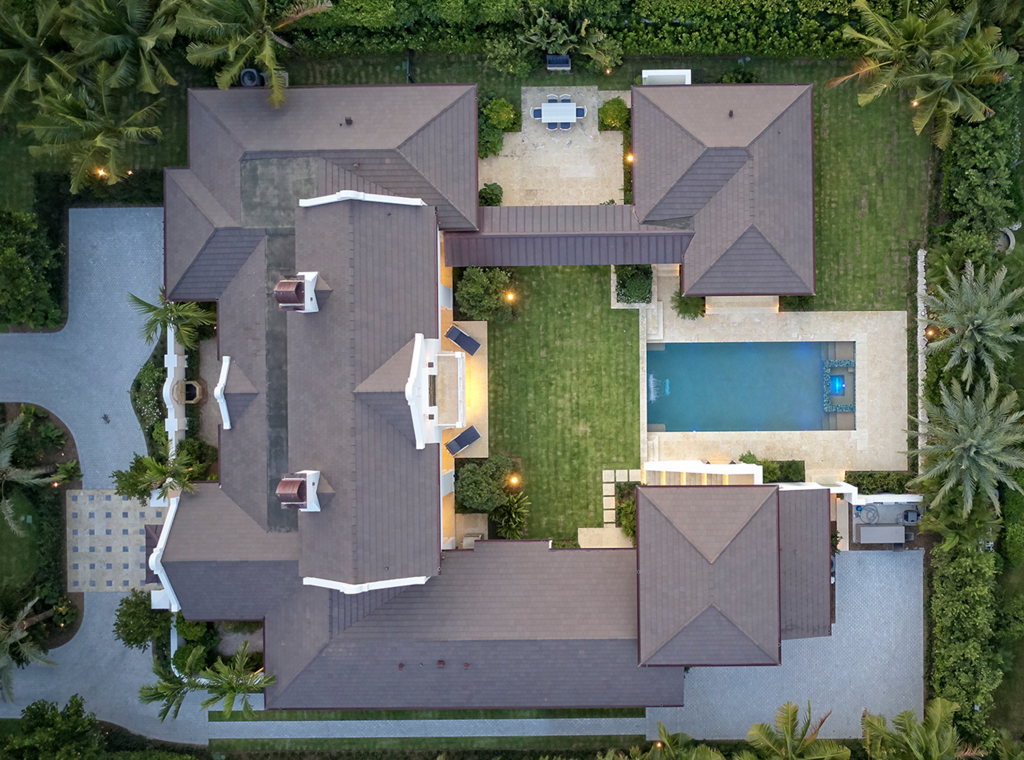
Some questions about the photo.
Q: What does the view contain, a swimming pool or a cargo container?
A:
swimming pool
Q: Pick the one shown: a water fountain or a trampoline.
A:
water fountain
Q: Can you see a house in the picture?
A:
Yes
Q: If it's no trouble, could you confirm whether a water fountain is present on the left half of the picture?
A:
Yes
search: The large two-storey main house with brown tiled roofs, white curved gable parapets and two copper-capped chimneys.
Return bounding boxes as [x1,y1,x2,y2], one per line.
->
[145,81,685,713]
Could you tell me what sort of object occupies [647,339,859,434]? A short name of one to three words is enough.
swimming pool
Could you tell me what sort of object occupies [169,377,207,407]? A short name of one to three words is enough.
fountain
